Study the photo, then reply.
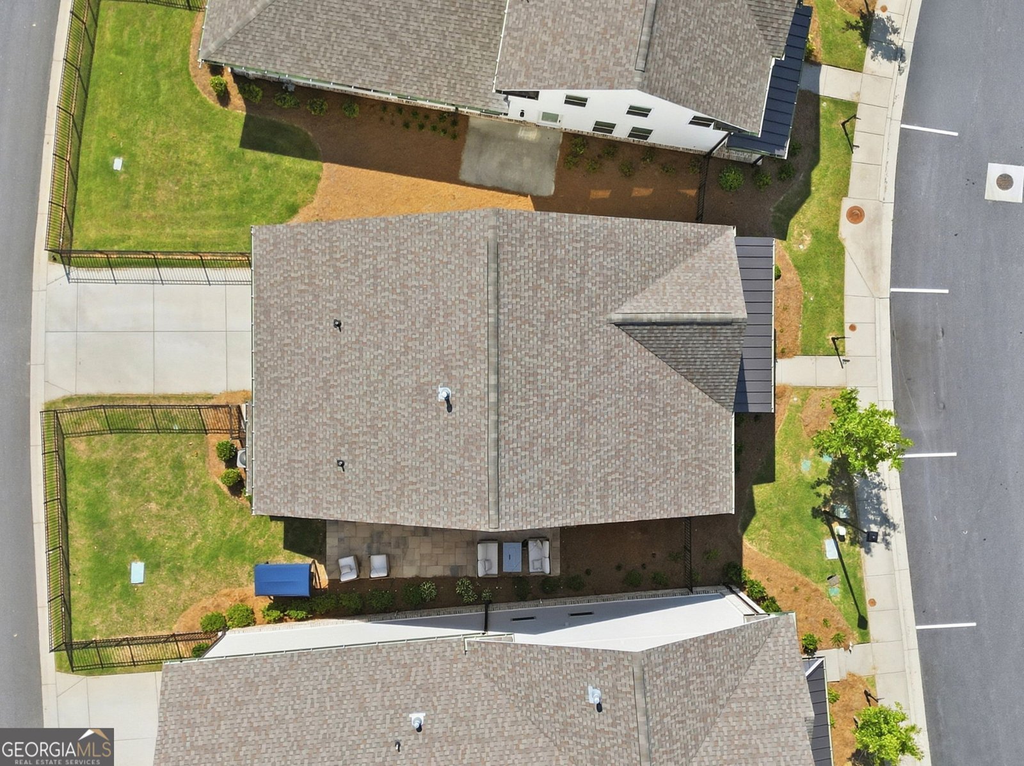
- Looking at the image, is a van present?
No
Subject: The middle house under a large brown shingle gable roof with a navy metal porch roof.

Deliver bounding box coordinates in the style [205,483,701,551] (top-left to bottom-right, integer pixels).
[244,208,776,530]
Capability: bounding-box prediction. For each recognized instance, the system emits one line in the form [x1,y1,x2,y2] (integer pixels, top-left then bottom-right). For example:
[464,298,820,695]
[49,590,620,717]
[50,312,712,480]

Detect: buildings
[197,0,814,170]
[244,208,776,530]
[154,576,835,766]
